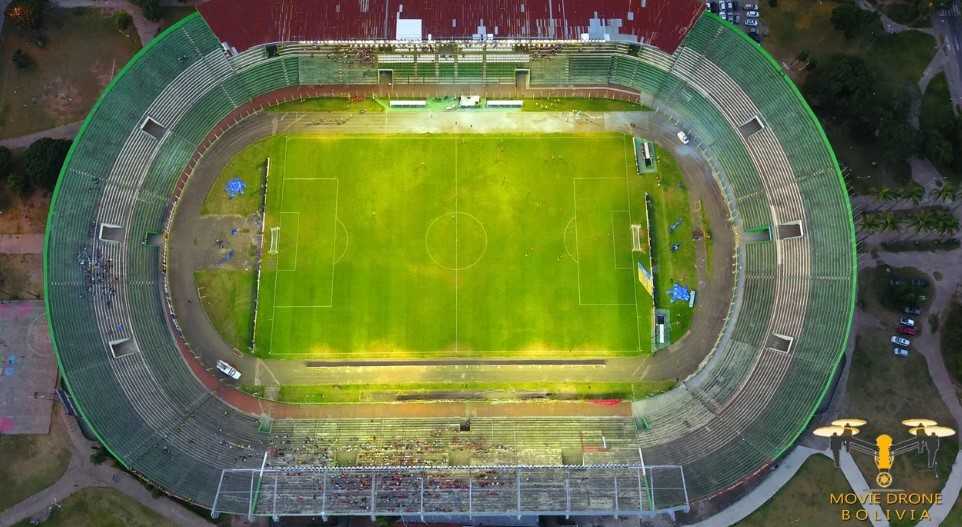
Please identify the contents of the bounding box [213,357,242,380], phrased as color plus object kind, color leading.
white truck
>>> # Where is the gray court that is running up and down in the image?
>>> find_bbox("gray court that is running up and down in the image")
[0,300,59,435]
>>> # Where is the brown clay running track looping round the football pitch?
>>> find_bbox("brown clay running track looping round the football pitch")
[162,88,743,420]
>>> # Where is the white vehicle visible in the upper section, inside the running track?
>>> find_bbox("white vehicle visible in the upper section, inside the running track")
[675,127,692,145]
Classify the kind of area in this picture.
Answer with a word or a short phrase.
sports ground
